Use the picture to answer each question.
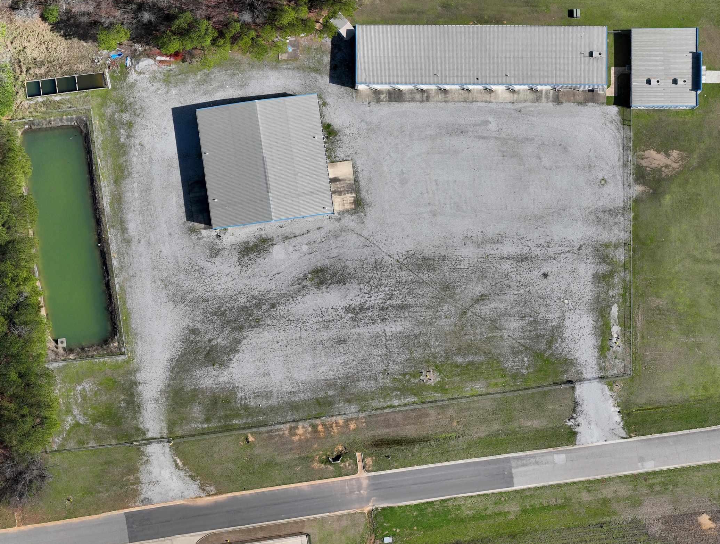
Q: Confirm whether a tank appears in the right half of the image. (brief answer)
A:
No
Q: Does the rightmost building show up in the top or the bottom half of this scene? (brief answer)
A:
top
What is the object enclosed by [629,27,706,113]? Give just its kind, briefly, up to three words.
building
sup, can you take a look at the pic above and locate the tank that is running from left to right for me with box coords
[25,70,110,98]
